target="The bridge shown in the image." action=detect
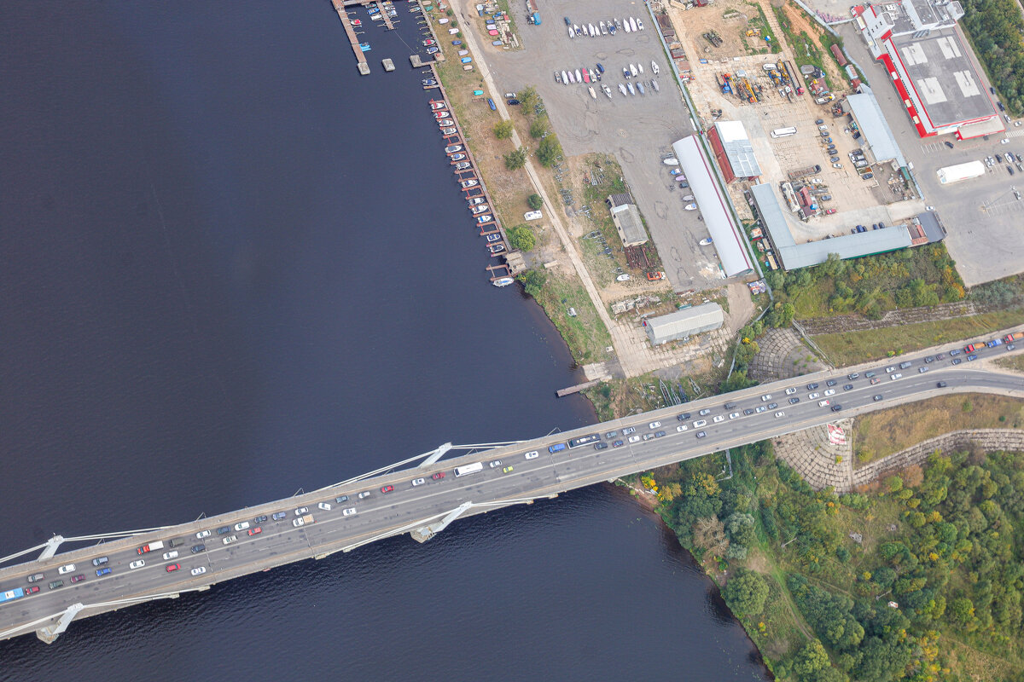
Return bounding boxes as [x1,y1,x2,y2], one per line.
[0,368,850,648]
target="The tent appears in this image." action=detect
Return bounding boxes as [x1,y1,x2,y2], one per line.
[932,160,987,188]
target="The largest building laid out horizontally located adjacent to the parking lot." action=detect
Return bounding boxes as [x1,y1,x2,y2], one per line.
[745,183,913,274]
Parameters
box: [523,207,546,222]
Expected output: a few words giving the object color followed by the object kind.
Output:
white vehicle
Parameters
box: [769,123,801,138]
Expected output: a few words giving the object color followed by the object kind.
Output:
white vehicle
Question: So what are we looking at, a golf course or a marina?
marina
